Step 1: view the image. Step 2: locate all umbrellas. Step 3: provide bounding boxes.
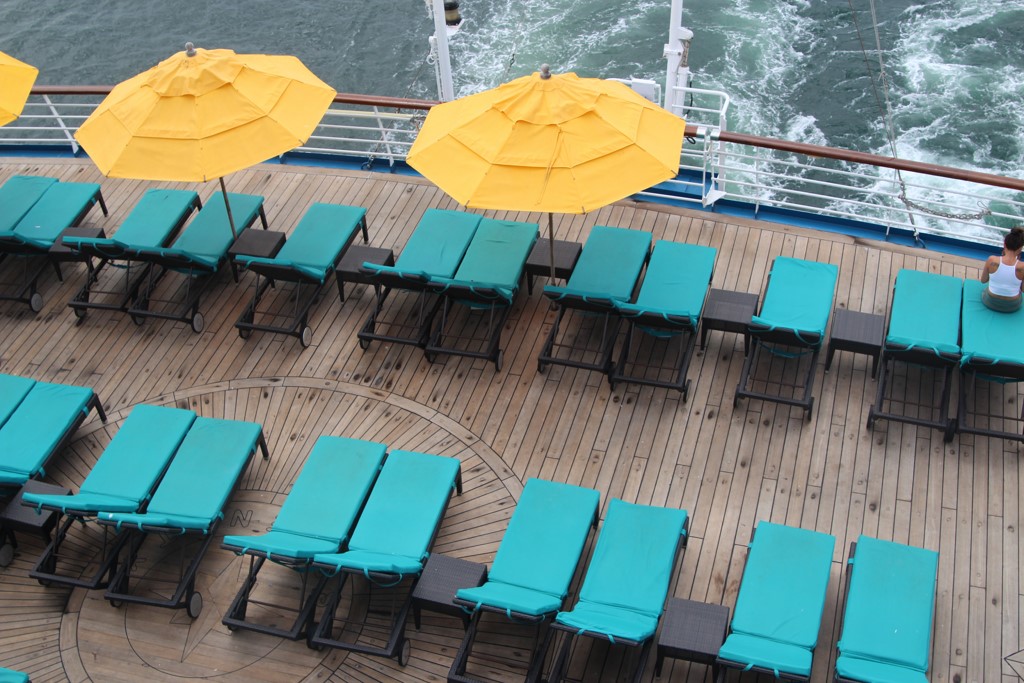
[406,67,686,312]
[0,49,37,123]
[69,42,341,272]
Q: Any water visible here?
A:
Yes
